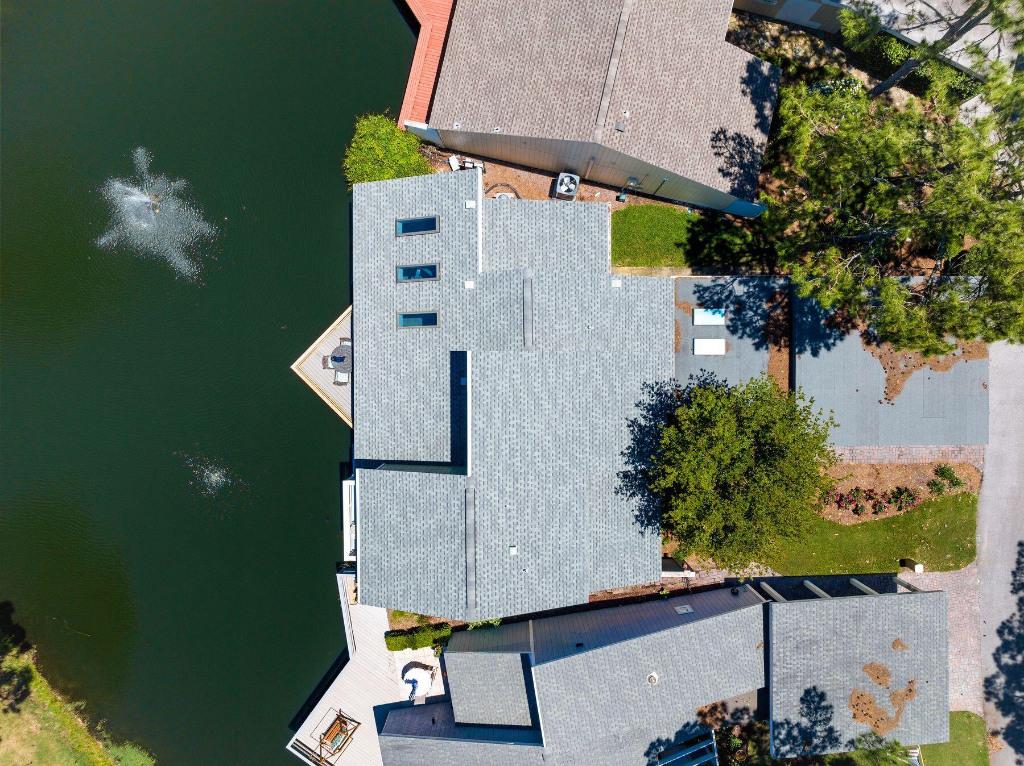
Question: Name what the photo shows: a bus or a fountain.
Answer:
fountain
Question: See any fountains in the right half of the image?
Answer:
No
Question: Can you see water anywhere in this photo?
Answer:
Yes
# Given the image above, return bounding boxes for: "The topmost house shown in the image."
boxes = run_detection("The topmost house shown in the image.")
[403,0,784,218]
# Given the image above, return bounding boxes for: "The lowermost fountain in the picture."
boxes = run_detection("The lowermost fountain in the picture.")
[181,456,240,501]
